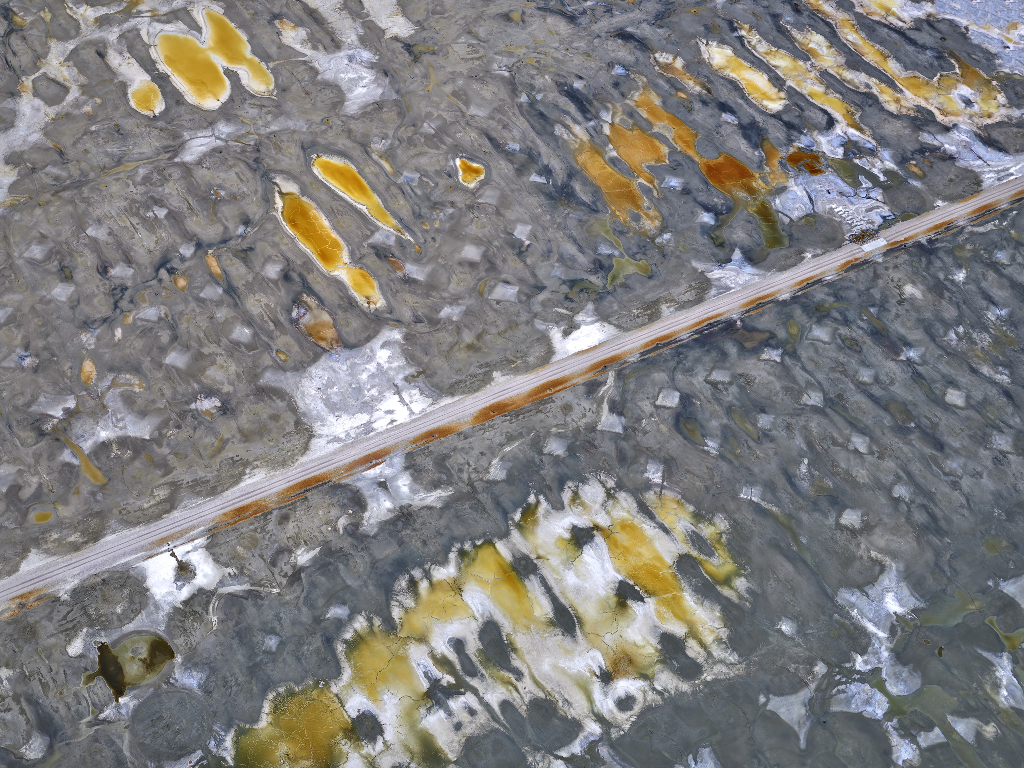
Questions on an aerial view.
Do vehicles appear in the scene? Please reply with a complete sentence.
No, there isn't any vehicle down there.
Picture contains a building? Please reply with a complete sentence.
No, I can see no building in this picture.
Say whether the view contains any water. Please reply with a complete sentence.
Yes, there's water in this view.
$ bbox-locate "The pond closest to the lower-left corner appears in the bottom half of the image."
[82,636,175,703]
